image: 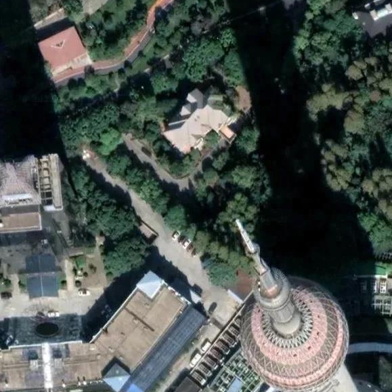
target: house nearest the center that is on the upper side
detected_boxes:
[164,92,233,152]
